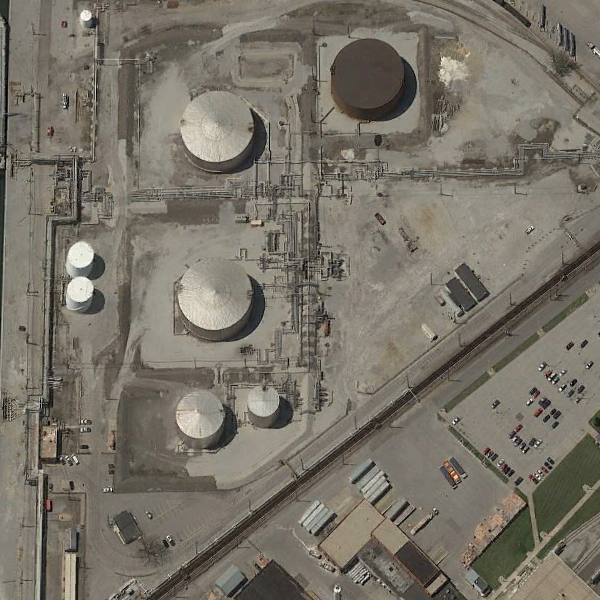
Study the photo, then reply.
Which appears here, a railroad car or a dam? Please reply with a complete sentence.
The one in the frame is a railroad car.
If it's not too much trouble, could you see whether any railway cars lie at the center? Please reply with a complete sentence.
No, I can find no railway car at the center.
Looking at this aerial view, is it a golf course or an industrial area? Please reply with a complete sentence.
The picture captures an industrial area.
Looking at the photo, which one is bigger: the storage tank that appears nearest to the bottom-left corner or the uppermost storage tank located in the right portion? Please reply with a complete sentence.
The uppermost storage tank located in the right portion is larger than the storage tank that appears nearest to the bottom-left corner.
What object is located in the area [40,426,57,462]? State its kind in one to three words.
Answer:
building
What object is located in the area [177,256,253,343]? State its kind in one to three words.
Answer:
storage tank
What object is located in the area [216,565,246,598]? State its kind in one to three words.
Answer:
shed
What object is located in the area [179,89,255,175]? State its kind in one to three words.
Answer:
storage tank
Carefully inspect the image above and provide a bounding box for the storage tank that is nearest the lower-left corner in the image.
[175,390,225,451]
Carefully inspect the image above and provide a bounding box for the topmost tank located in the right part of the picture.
[331,37,405,122]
